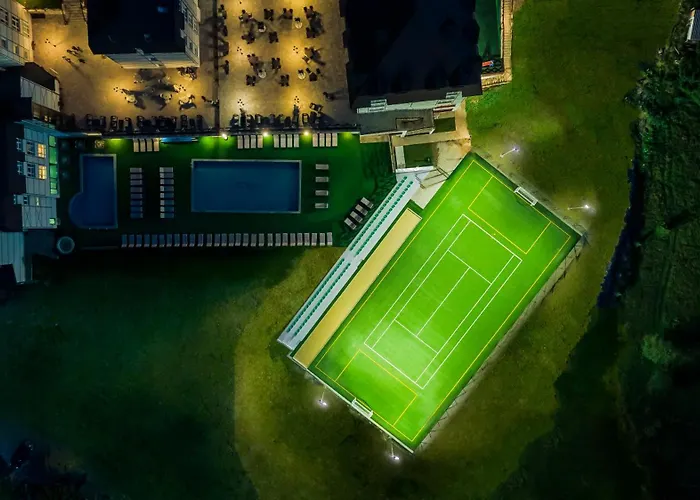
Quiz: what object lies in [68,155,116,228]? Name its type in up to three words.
swimming pool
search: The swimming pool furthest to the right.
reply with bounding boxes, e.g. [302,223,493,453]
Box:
[190,159,300,213]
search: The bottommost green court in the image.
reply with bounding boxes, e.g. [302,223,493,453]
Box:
[287,148,584,456]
